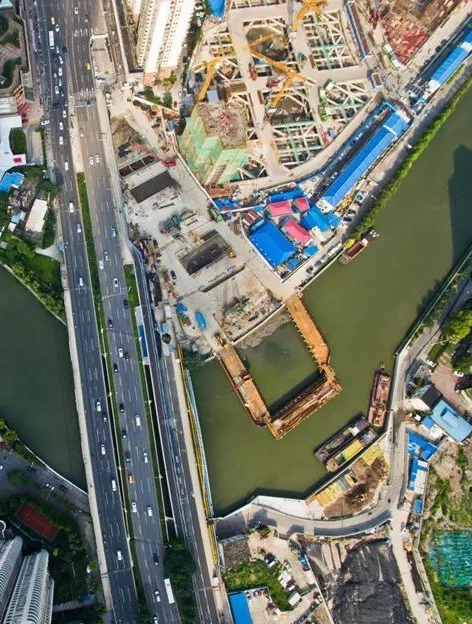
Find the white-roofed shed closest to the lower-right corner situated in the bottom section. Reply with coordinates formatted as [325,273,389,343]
[405,458,428,491]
